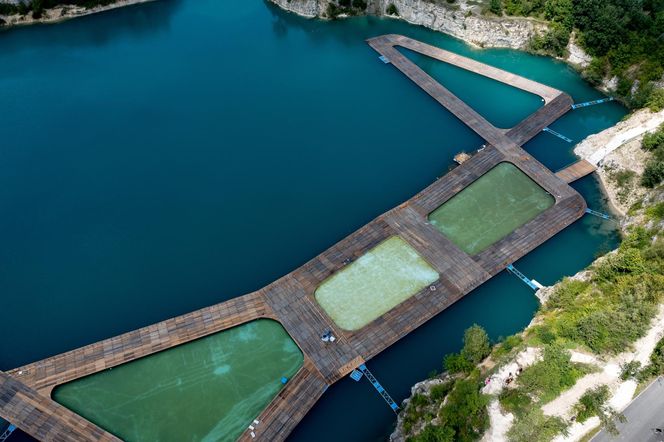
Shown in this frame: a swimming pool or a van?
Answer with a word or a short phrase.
swimming pool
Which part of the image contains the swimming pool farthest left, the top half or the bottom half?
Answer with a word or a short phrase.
bottom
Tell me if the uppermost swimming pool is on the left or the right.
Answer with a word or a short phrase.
right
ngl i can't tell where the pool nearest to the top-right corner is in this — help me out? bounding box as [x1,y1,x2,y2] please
[428,159,556,255]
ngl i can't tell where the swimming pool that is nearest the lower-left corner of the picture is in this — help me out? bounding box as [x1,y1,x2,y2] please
[53,317,303,442]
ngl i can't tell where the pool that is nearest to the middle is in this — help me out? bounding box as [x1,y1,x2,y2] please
[316,236,440,331]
